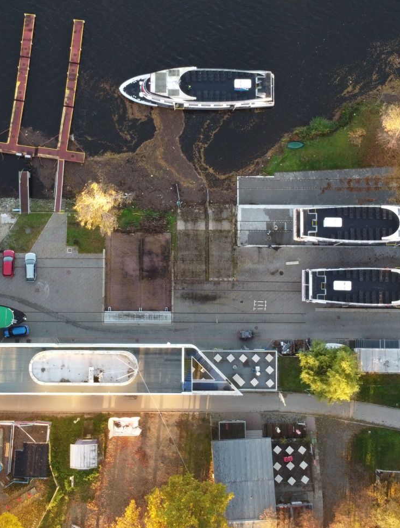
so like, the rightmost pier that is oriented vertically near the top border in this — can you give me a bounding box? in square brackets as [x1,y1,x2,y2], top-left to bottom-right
[36,19,85,167]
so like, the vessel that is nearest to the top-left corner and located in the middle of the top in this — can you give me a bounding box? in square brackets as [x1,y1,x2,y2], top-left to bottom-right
[120,64,273,105]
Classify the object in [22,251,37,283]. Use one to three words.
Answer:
car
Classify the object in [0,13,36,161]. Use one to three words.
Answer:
pier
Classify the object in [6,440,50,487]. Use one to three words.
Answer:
shed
